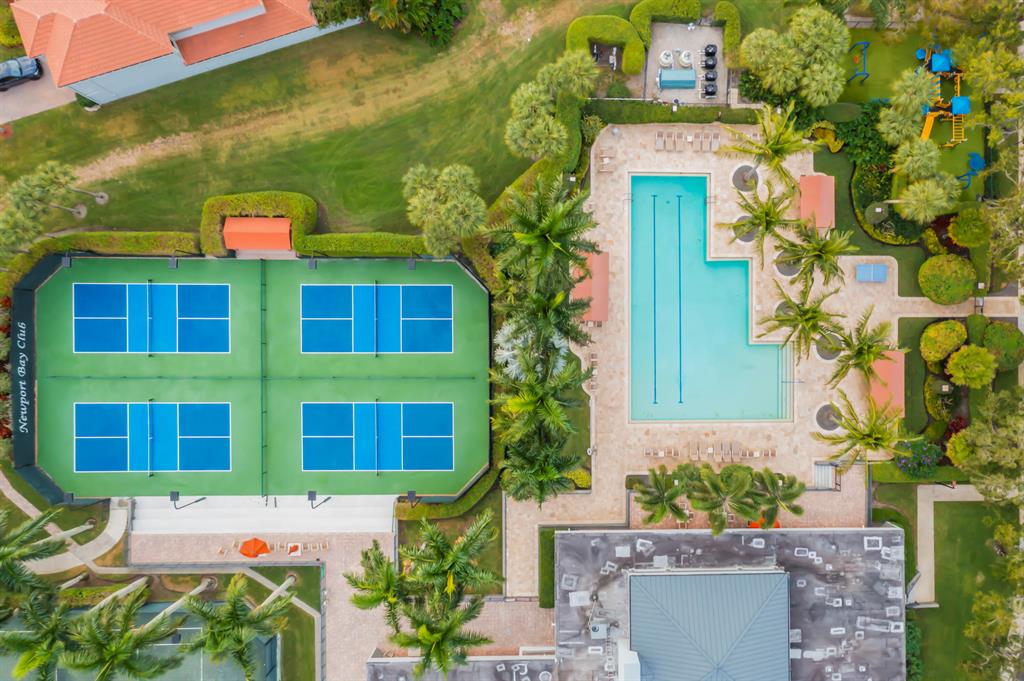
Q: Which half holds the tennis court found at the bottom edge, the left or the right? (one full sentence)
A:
You can find the tennis court found at the bottom edge on the left side of the picture.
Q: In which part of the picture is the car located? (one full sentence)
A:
The car is in the top left part of the image.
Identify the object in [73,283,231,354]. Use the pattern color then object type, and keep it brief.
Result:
blue sports court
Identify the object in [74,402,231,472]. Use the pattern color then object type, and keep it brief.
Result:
blue sports court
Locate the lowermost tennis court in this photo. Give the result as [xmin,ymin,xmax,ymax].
[0,604,276,681]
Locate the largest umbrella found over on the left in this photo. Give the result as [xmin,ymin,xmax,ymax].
[242,532,270,560]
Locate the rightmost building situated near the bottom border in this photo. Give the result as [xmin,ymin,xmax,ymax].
[556,530,905,681]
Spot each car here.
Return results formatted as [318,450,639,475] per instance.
[0,51,41,88]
